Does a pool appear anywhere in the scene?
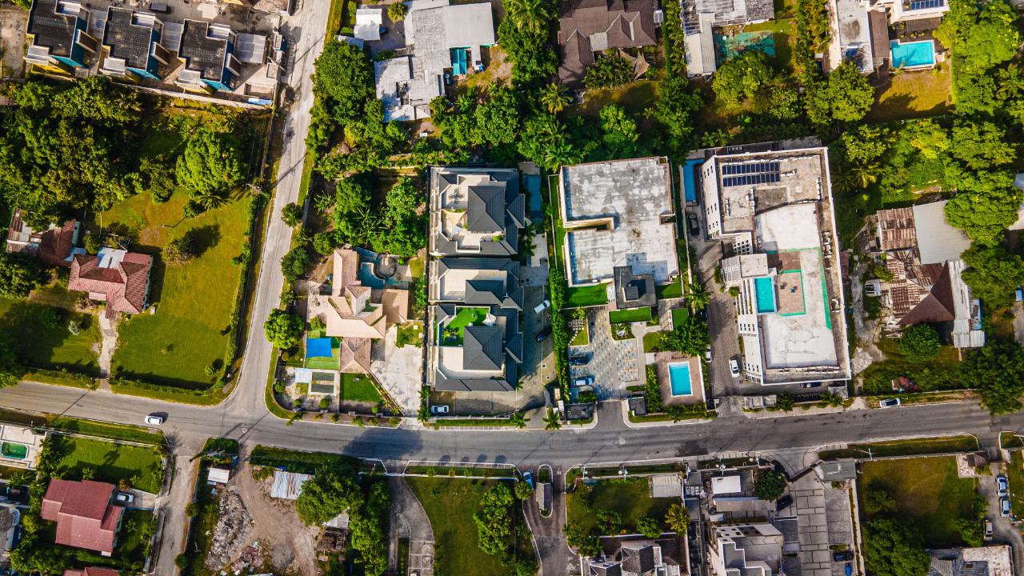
Yes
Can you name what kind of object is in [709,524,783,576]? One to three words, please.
building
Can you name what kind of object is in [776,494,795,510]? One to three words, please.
vehicle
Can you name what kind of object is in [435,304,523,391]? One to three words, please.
house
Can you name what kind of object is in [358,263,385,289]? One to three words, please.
swimming pool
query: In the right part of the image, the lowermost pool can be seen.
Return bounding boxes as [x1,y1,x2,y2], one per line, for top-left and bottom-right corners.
[668,361,693,397]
